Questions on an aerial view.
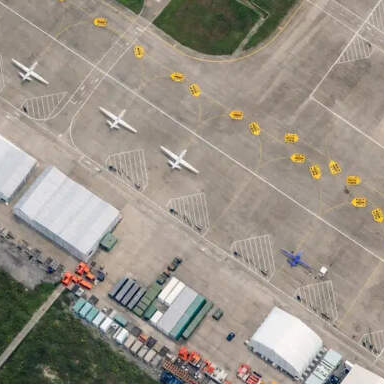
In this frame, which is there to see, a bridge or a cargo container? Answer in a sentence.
There is a cargo container in the scene.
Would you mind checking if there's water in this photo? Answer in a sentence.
No, there is no water in the image.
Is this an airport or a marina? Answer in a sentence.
This image shows an airport.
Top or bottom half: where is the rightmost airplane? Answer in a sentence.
The bottom half of the photo is where the rightmost airplane is.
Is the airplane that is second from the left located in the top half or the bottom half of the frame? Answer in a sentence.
Seen from above, the airplane that is second from the left lies in the top half of the view.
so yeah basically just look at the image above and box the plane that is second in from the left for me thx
[100,106,136,133]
